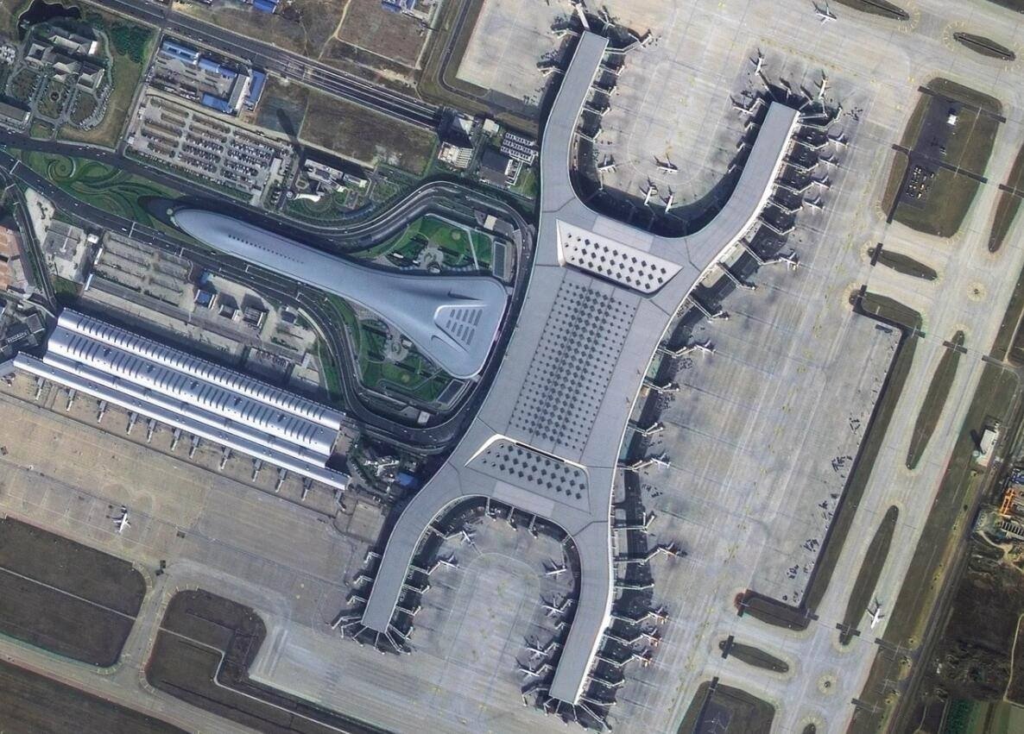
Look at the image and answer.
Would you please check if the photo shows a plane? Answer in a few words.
Yes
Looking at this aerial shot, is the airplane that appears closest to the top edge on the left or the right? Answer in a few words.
right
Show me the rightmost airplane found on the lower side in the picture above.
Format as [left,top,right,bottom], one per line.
[867,606,886,629]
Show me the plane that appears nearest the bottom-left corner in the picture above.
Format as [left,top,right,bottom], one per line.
[113,513,130,534]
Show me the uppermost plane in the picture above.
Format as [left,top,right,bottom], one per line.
[814,3,836,23]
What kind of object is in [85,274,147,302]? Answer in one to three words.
building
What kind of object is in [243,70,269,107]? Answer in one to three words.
shed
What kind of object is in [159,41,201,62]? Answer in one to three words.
shed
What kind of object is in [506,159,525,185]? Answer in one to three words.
building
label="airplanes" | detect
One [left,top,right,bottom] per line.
[633,650,653,669]
[113,513,130,534]
[545,563,567,583]
[653,454,672,472]
[781,252,801,271]
[811,176,831,196]
[541,598,564,618]
[463,530,476,548]
[818,153,839,172]
[751,55,769,76]
[814,76,832,98]
[642,628,662,648]
[440,556,460,575]
[696,341,716,360]
[662,192,679,213]
[659,544,680,563]
[827,133,849,153]
[814,3,836,23]
[526,640,548,660]
[867,606,886,629]
[598,156,617,175]
[649,606,670,626]
[644,186,659,206]
[732,99,752,118]
[803,197,825,216]
[657,158,679,178]
[517,662,539,682]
